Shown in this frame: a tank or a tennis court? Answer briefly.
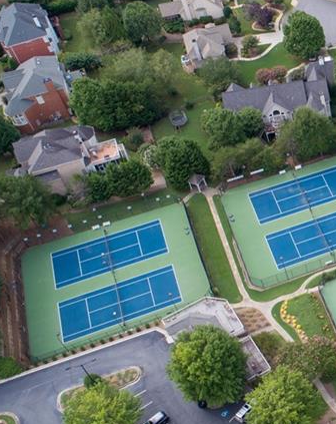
tennis court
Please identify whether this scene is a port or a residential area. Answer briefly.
residential area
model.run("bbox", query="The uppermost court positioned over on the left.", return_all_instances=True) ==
[51,219,168,288]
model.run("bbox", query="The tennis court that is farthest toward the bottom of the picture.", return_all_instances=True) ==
[58,264,183,342]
